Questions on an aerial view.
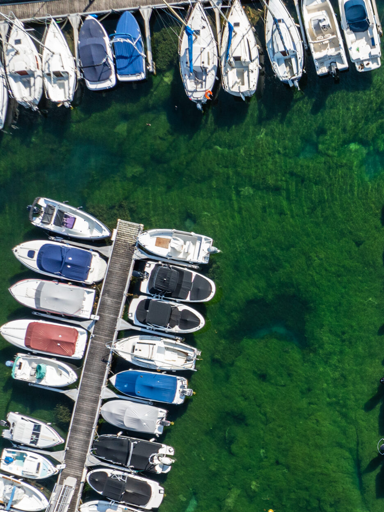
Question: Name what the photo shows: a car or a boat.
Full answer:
Visible in the photo is a boat.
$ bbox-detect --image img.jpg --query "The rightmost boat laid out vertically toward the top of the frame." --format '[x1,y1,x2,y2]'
[342,0,382,78]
